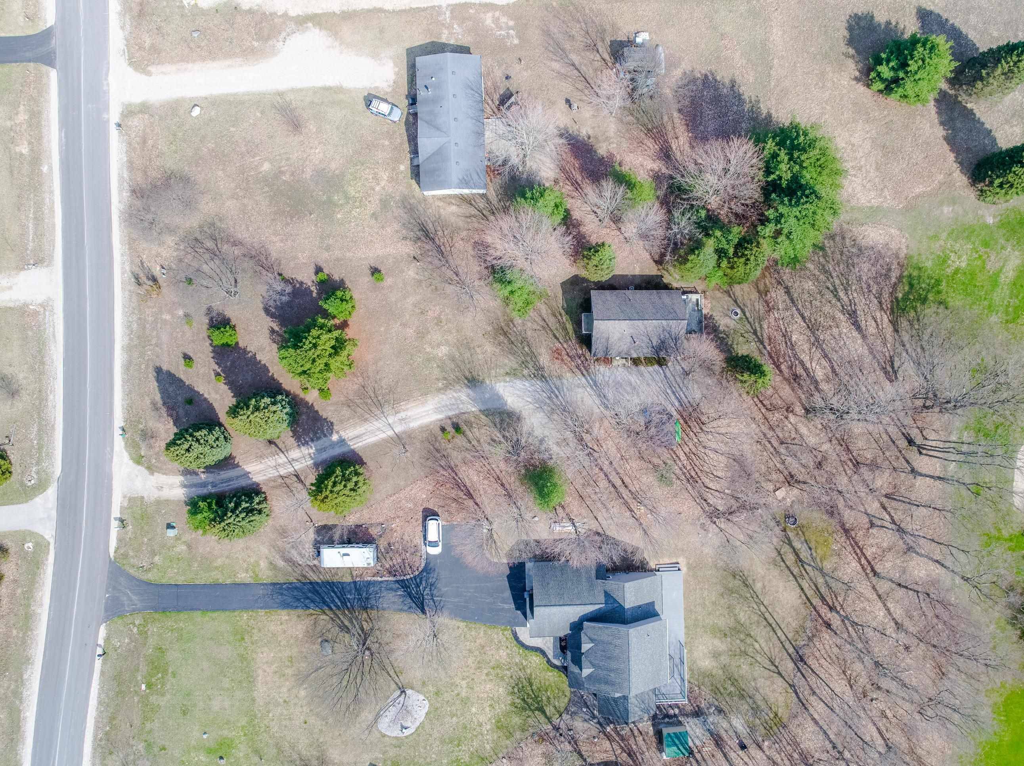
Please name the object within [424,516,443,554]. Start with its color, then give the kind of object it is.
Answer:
white car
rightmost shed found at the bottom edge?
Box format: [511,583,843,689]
[662,724,689,757]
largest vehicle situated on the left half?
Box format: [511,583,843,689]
[318,543,378,568]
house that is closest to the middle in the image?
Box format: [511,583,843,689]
[581,289,707,372]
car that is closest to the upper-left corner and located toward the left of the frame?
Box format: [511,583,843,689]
[365,97,405,124]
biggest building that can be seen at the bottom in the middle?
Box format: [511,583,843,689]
[524,556,688,723]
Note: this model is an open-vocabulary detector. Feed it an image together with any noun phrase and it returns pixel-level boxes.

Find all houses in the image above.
[581,289,707,372]
[524,556,688,723]
[403,52,521,196]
